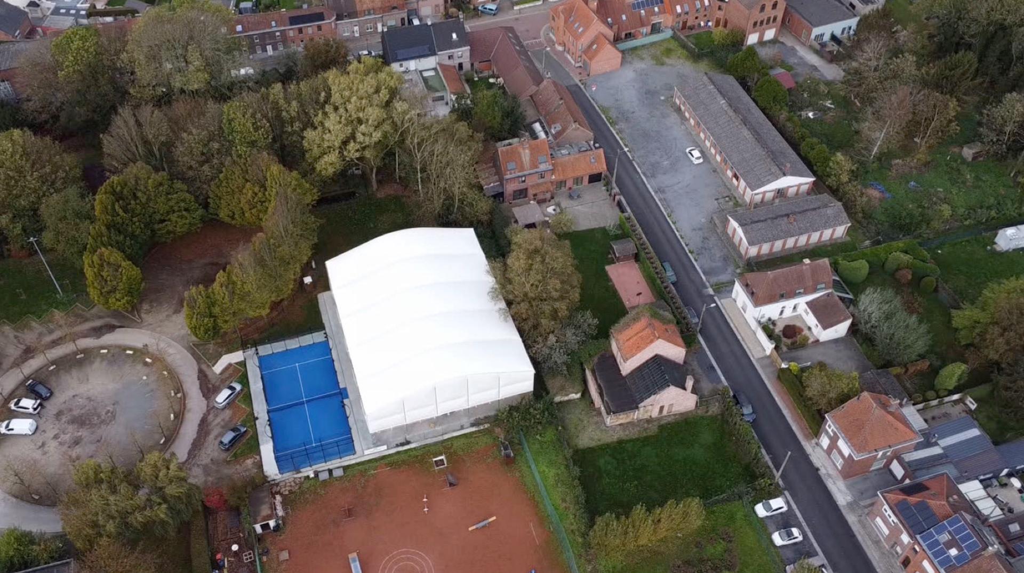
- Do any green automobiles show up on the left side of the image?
No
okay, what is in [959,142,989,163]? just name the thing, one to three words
shed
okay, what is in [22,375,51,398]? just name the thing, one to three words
car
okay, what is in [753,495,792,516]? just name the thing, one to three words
car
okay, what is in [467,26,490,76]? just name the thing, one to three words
house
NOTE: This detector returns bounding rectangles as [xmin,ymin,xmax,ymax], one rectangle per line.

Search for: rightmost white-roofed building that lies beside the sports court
[326,226,531,432]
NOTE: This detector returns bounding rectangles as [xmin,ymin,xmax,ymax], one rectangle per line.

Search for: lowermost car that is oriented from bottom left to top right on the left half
[212,421,248,450]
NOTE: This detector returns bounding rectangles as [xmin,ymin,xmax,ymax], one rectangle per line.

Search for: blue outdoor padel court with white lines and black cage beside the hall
[248,326,356,474]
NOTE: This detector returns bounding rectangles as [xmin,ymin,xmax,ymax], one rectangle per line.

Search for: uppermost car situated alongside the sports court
[210,378,243,407]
